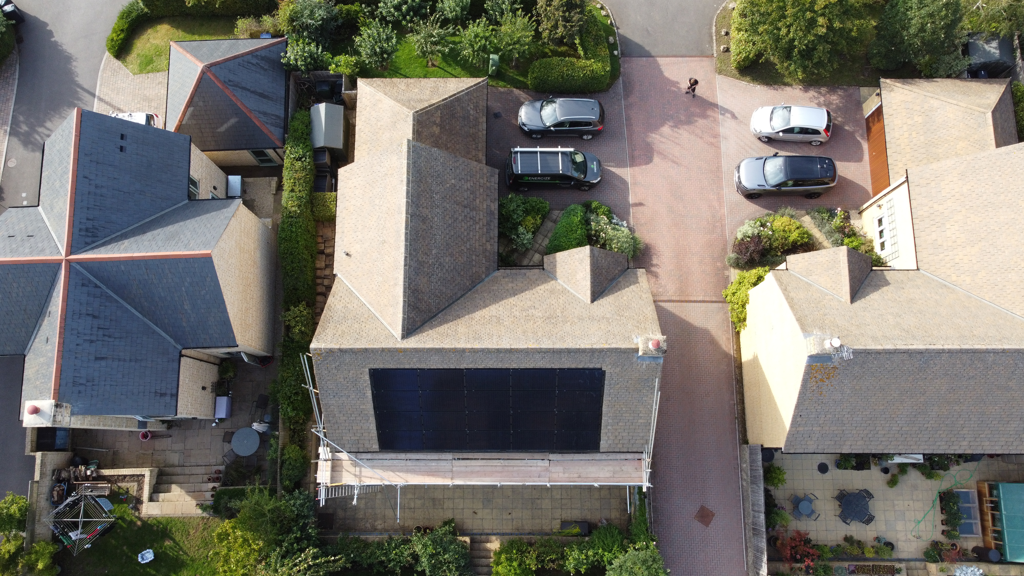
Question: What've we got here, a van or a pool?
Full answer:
The image shows a van.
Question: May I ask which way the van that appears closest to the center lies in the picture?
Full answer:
The van that appears closest to the center runs from left to right in the image.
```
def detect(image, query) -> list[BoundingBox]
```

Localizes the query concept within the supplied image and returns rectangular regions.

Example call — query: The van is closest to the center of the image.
[505,146,603,193]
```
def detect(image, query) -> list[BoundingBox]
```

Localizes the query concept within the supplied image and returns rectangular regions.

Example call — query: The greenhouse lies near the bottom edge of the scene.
[978,482,1024,572]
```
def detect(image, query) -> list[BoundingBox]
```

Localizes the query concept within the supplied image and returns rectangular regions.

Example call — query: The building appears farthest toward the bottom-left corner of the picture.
[42,428,80,451]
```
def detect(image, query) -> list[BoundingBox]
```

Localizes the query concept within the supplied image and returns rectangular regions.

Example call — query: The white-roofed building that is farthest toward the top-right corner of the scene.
[736,76,1024,456]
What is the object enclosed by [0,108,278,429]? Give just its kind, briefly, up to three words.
house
